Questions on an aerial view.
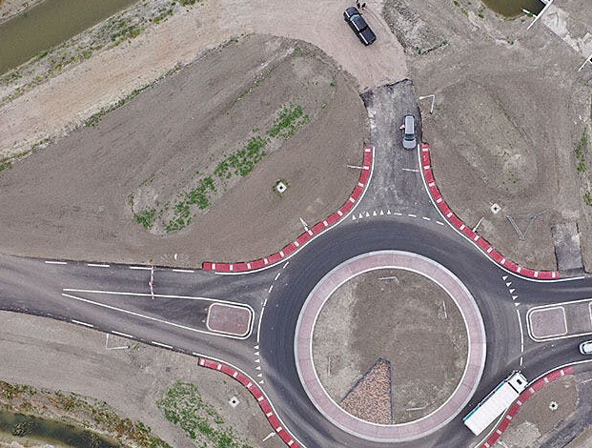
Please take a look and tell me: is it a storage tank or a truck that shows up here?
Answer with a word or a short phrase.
truck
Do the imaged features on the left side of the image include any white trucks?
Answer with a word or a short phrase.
No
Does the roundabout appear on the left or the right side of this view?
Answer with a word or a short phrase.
right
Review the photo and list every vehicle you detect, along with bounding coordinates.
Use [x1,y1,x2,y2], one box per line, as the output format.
[402,116,417,149]
[579,340,592,354]
[346,6,376,47]
[461,369,529,437]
